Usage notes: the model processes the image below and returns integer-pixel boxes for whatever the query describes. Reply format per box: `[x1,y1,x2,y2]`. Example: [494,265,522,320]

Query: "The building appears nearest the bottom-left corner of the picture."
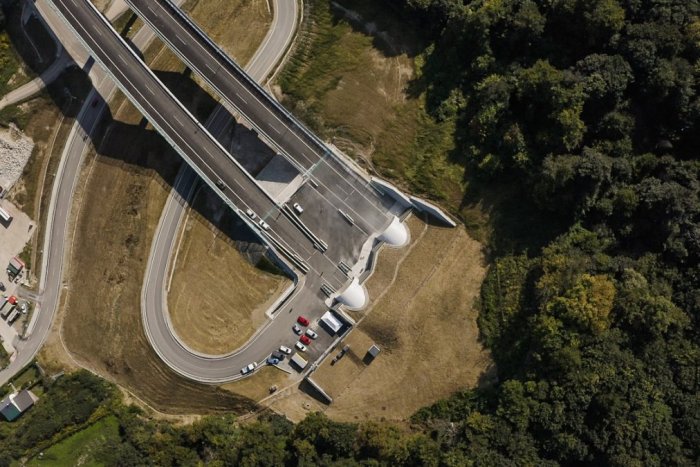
[0,389,38,422]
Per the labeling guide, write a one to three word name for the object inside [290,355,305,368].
vehicle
